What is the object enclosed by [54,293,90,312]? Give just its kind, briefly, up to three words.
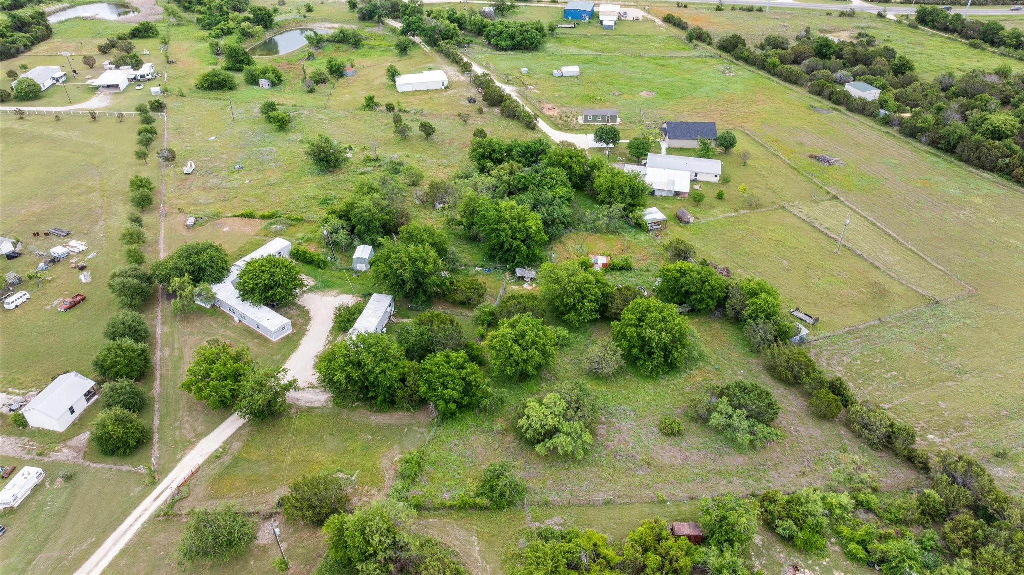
vehicle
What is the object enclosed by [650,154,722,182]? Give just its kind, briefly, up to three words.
house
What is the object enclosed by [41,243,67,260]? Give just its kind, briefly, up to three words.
camper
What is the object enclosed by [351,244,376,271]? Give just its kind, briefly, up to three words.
shed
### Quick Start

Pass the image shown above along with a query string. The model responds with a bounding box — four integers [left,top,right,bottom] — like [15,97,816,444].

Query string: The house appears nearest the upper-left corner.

[27,68,71,91]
